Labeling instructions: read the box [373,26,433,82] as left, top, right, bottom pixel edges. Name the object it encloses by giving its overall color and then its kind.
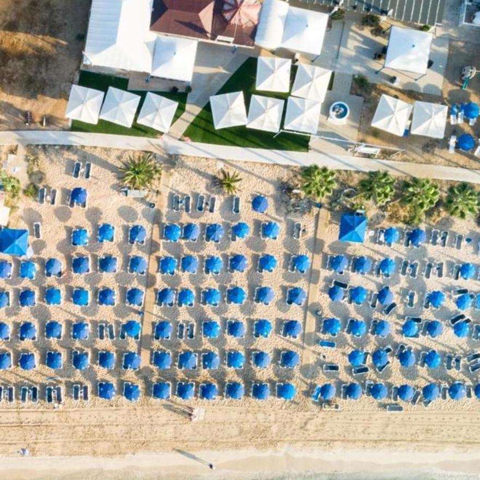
white tent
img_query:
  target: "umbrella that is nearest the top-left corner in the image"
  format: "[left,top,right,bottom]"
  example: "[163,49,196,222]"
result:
[66,85,104,125]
